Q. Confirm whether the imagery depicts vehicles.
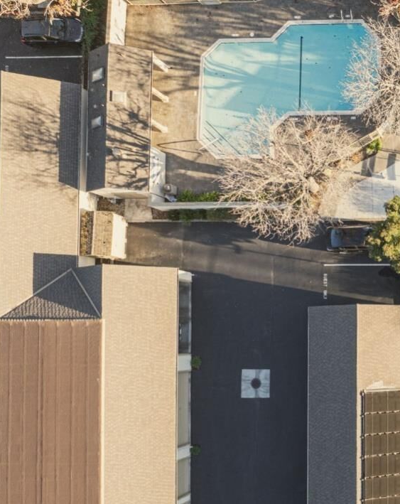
Yes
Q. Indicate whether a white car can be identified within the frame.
No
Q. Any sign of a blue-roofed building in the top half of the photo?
No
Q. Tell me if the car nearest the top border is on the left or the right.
left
